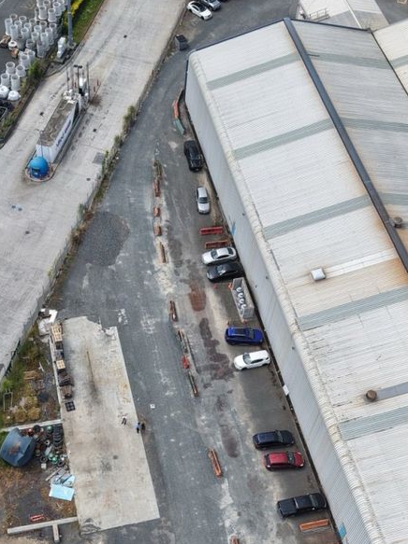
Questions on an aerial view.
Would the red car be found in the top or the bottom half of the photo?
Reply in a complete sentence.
The bottom half of the photo is where the red car is.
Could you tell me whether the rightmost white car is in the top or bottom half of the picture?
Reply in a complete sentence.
It is in the bottom half that the rightmost white car appears.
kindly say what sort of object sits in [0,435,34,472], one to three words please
storage tank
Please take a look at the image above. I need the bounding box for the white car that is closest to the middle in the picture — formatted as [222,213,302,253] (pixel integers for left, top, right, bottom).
[201,246,238,266]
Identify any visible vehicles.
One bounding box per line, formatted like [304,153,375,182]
[234,349,271,370]
[187,1,213,19]
[277,492,326,517]
[186,141,203,168]
[265,451,304,471]
[200,0,221,9]
[253,428,296,448]
[195,186,211,212]
[201,246,238,266]
[226,325,263,345]
[207,263,244,283]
